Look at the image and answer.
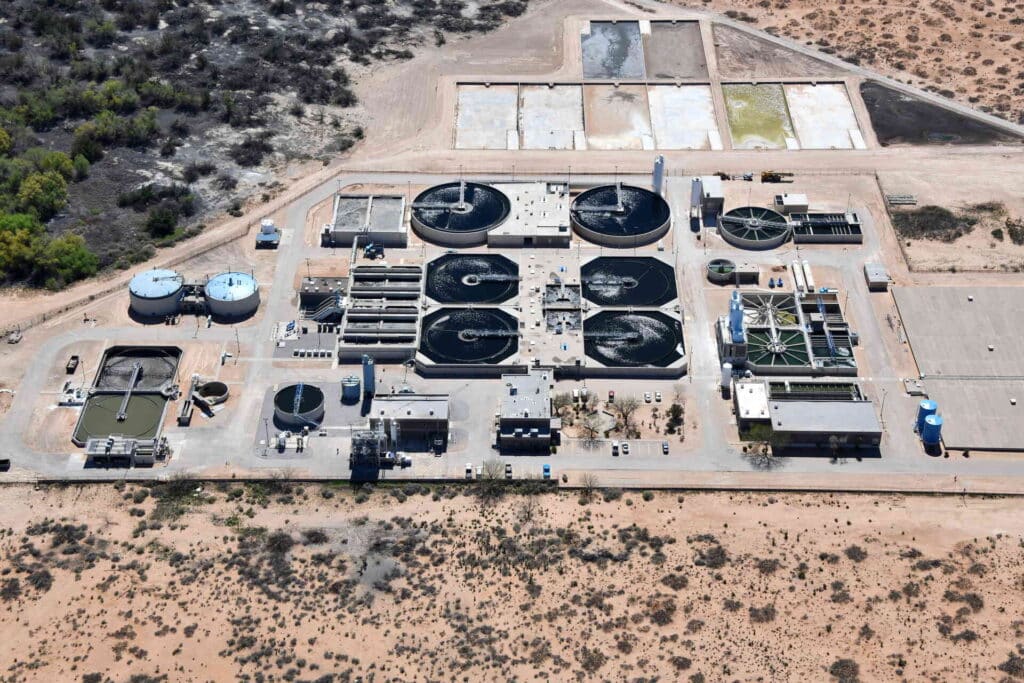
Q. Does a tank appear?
Yes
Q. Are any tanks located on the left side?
Yes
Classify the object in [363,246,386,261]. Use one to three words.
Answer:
vehicle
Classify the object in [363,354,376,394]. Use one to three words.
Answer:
silo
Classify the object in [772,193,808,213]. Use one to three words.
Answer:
building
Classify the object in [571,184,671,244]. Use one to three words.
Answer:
storage tank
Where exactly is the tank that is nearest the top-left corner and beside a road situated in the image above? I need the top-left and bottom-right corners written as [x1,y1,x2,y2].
[129,267,187,318]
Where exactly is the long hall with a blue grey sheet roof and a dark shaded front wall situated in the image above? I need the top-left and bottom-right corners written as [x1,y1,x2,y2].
[768,400,882,447]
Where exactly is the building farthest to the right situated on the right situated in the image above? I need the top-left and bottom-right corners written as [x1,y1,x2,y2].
[863,263,893,289]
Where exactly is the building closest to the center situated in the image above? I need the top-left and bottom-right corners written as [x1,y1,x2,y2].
[500,368,561,450]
